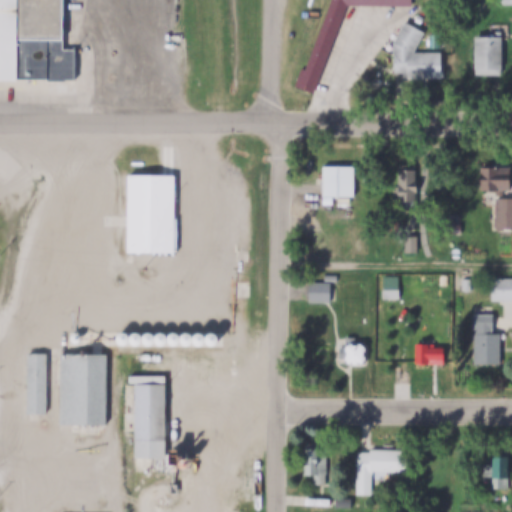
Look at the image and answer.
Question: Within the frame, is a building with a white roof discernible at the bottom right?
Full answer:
Yes, you'll find a building with a white roof at the bottom right.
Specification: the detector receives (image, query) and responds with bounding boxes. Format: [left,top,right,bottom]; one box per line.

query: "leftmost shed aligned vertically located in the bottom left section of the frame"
[27,353,47,415]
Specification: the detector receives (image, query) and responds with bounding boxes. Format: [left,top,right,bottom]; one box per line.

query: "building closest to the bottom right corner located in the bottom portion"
[483,457,508,490]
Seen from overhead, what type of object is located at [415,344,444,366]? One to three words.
house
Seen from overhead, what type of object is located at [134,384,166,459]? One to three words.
shed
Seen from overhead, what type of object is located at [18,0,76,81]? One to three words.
building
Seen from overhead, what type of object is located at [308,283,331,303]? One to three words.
building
